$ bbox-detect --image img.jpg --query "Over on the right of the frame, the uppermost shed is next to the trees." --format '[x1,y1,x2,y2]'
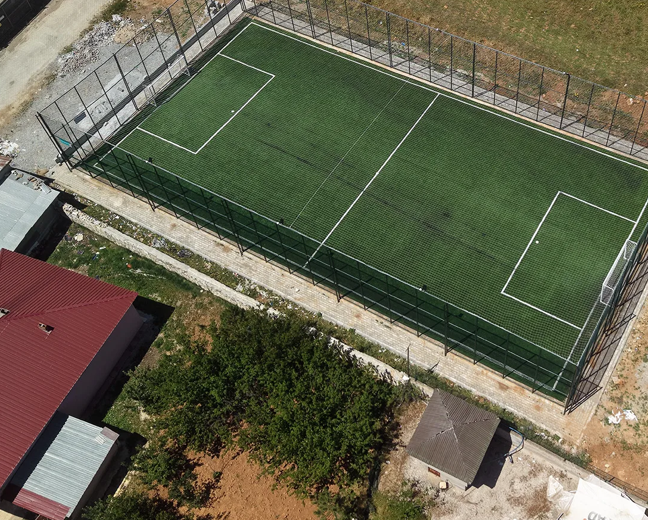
[406,390,500,493]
